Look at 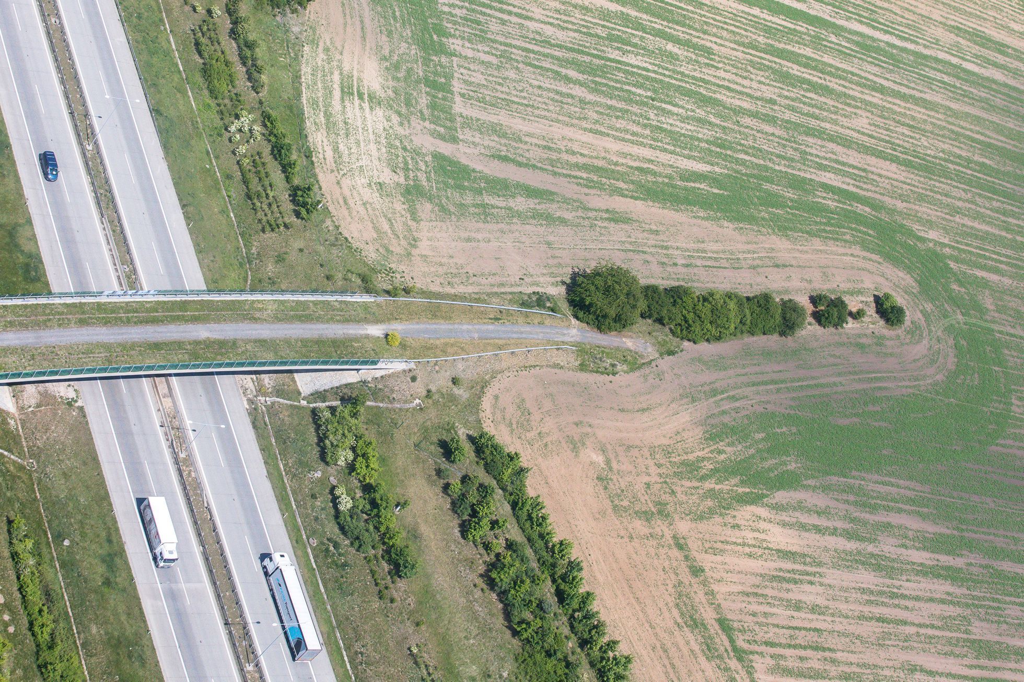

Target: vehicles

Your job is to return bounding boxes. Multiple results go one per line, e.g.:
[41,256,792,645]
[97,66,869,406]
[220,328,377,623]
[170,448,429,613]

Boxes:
[42,153,60,182]
[263,554,322,664]
[140,497,181,572]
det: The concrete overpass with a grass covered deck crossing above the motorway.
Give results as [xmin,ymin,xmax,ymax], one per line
[0,294,429,383]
